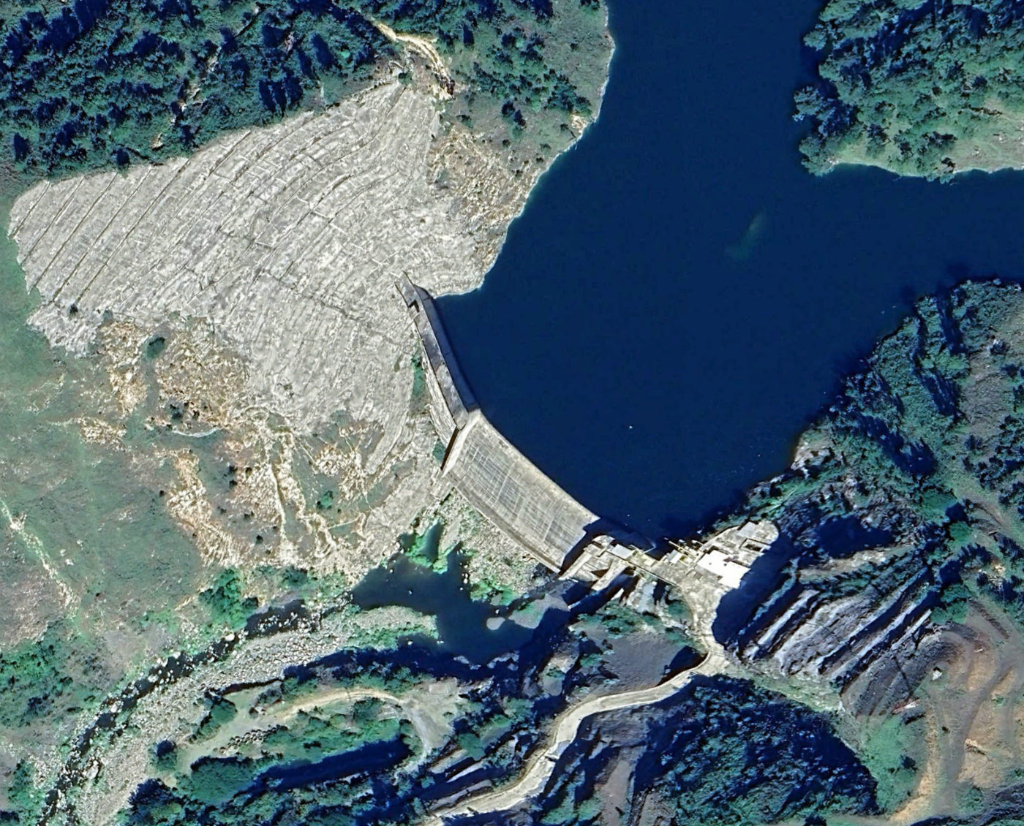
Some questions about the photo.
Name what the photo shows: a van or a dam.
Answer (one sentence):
It is a dam that can be seen here.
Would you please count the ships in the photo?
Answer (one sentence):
I count no ships.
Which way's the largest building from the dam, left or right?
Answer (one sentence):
Relative to the dam, the largest building lies to the right.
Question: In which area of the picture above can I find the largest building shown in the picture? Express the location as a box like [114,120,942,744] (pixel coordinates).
[696,548,754,589]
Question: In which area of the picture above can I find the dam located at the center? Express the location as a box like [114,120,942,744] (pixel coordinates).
[397,272,680,591]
